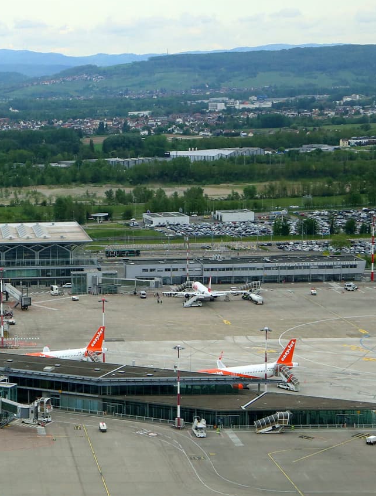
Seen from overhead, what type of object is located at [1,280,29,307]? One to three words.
jet bridge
